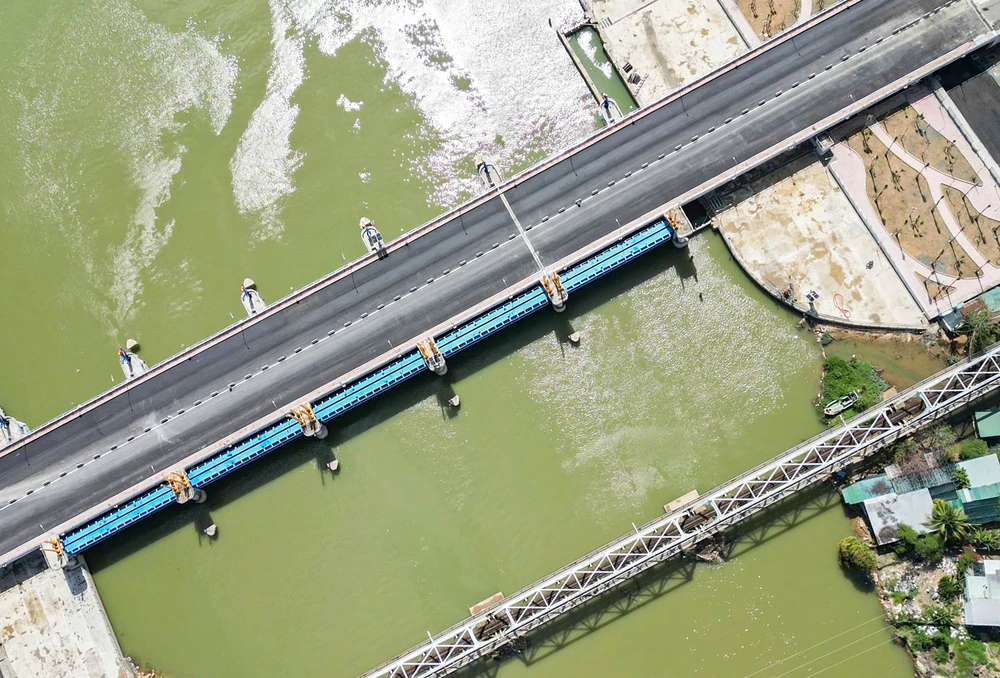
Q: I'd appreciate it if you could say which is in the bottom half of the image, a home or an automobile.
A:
home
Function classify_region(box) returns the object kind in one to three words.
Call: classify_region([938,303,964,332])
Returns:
shed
